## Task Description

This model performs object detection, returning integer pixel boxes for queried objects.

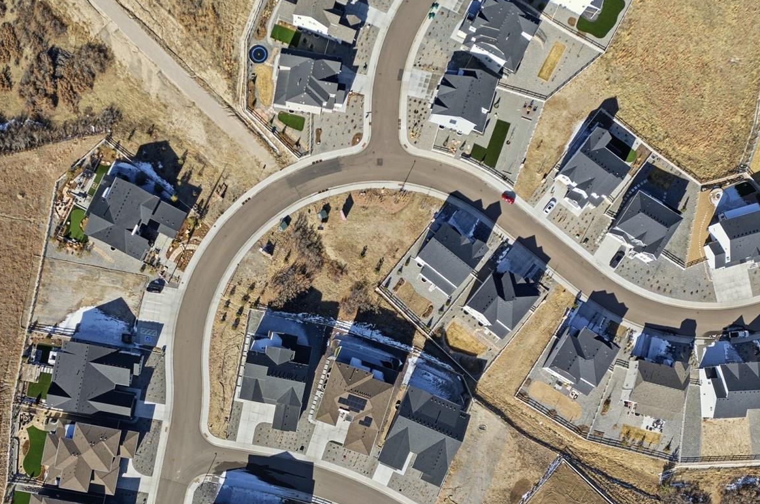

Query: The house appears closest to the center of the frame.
[414,220,490,298]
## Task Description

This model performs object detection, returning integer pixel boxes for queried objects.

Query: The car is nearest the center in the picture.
[499,189,519,205]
